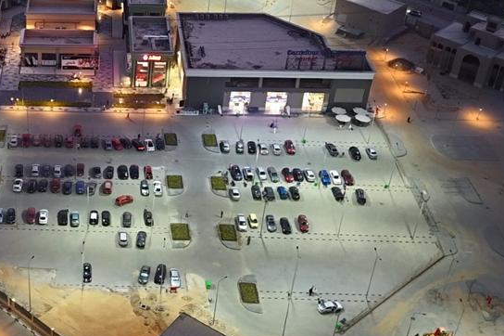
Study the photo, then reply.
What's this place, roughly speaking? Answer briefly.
parking lot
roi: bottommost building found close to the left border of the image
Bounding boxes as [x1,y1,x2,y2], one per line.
[19,29,100,76]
